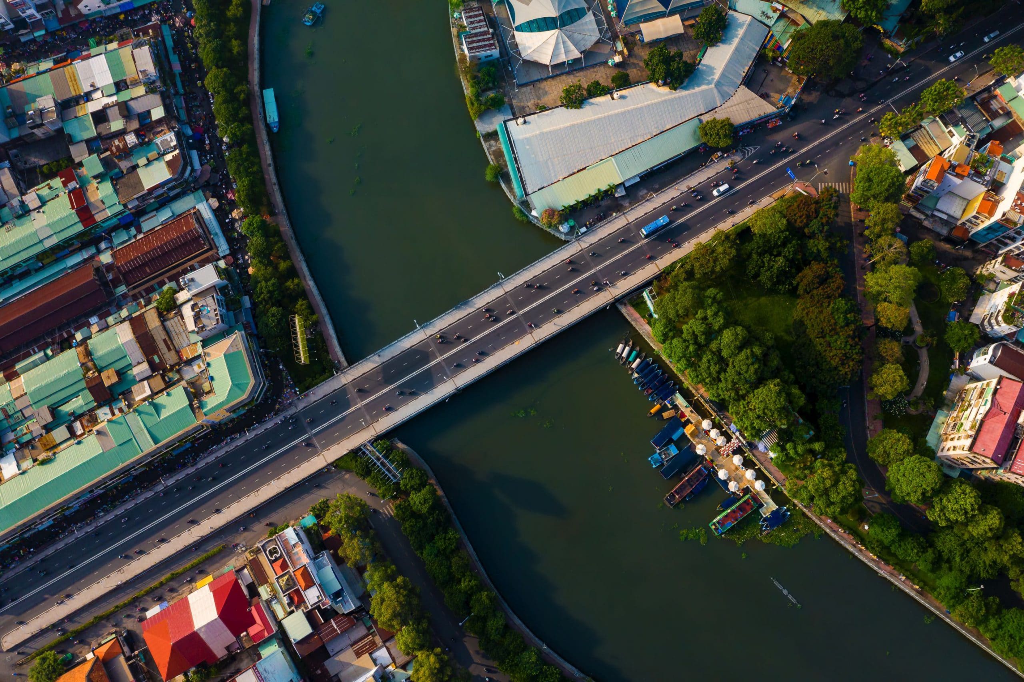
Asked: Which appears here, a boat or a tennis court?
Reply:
boat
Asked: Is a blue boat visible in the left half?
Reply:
Yes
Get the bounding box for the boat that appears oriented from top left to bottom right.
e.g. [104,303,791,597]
[711,469,732,494]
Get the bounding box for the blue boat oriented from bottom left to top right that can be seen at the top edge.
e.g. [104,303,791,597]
[301,0,324,25]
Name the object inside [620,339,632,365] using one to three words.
boat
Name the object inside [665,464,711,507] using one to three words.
boat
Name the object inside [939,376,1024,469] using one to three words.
building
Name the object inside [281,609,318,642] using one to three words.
house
